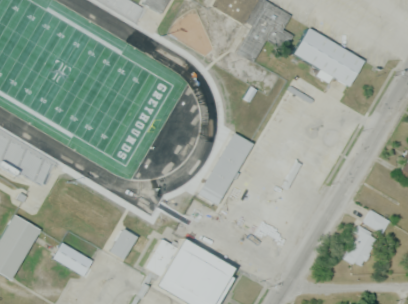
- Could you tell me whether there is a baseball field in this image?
Yes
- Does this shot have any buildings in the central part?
Yes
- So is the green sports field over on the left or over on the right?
left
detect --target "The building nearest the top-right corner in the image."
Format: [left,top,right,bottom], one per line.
[292,28,365,86]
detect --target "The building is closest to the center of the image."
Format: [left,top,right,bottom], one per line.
[196,134,254,207]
